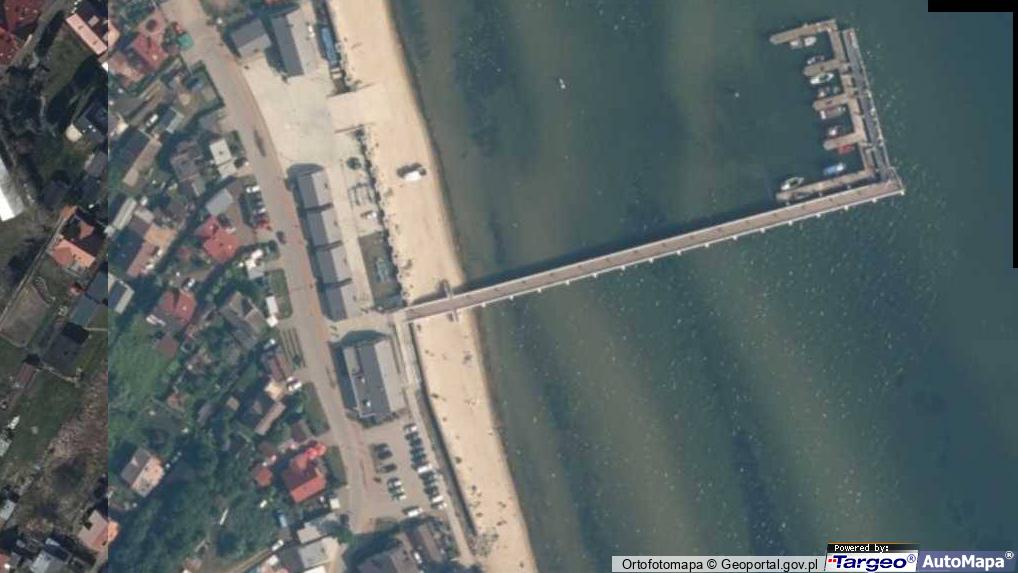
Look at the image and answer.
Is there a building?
Yes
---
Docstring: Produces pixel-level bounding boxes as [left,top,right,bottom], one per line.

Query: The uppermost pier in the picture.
[770,20,833,44]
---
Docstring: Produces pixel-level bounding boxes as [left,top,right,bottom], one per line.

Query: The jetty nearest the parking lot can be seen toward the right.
[403,177,906,322]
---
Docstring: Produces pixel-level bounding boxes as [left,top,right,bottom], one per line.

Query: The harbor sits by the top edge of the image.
[769,20,897,200]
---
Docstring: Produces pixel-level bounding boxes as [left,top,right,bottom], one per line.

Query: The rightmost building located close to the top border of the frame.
[271,9,319,78]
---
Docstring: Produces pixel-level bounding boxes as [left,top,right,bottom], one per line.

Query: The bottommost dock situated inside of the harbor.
[776,170,870,199]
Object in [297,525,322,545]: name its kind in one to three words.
shed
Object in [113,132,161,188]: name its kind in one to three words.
barn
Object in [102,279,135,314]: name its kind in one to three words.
house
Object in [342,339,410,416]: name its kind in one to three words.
building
